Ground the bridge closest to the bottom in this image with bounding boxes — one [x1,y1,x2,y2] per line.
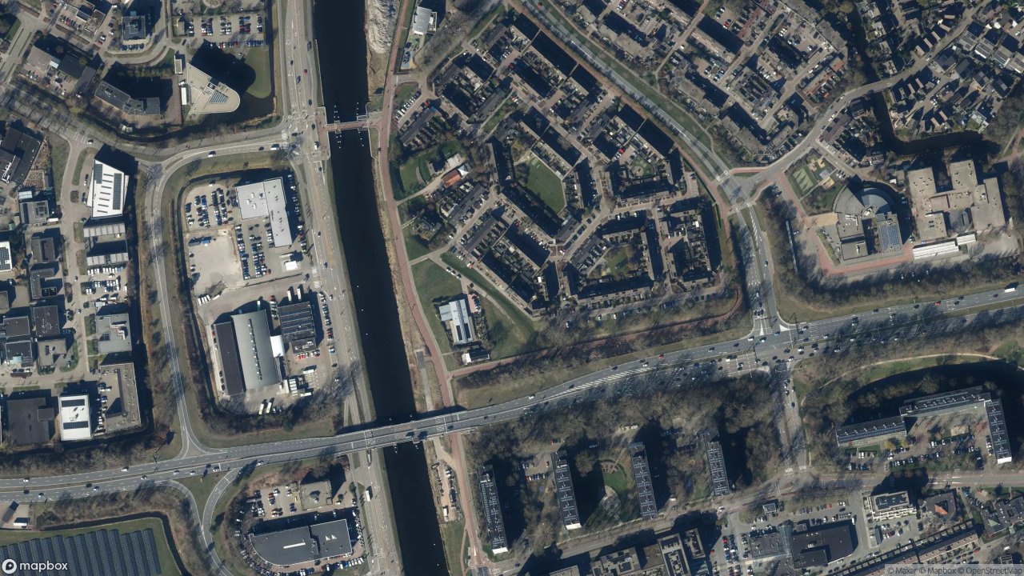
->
[344,410,464,451]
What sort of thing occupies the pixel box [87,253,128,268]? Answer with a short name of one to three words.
shed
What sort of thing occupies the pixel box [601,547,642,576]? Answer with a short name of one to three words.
building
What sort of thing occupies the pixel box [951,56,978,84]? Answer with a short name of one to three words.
house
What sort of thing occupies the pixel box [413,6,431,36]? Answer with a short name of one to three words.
building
